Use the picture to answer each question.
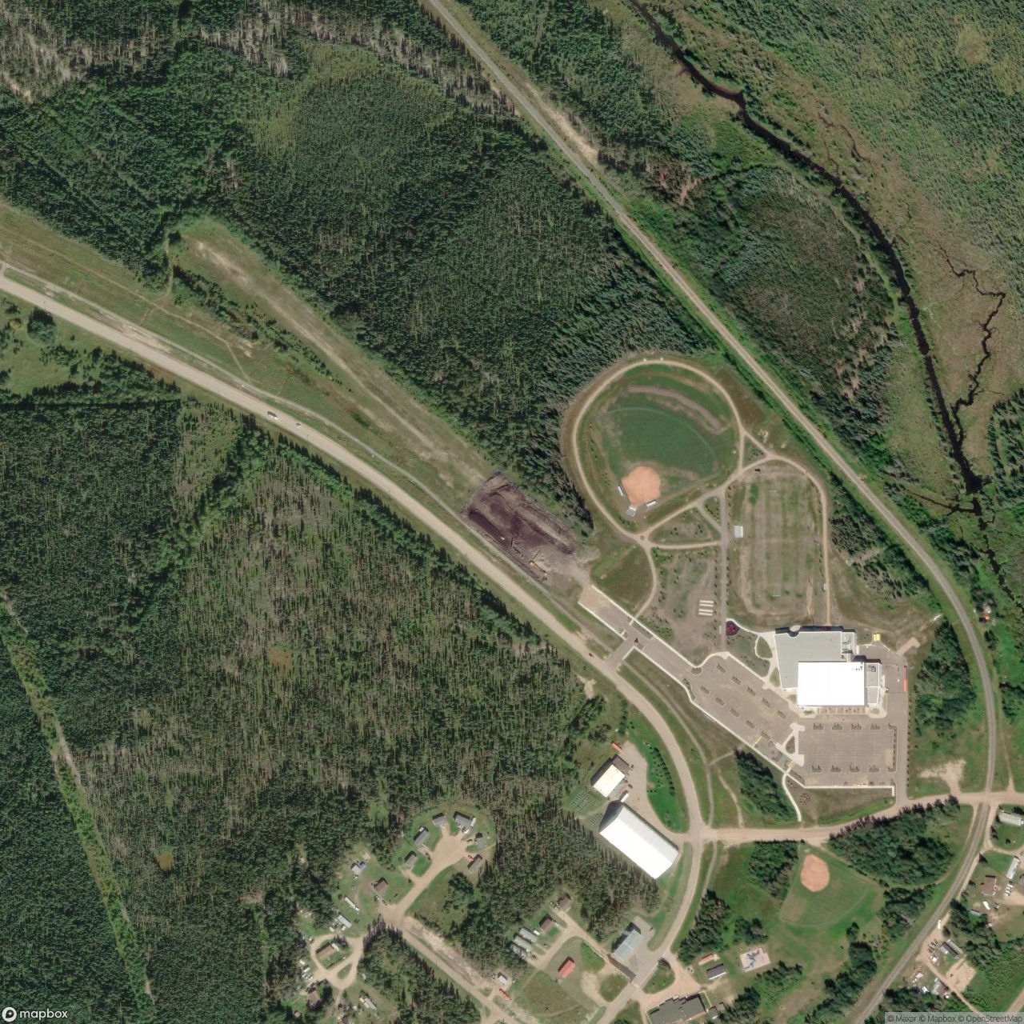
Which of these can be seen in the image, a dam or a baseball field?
baseball field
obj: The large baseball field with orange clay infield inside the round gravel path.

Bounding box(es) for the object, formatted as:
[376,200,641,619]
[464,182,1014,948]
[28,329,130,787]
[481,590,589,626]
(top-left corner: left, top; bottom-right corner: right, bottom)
[596,384,720,507]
